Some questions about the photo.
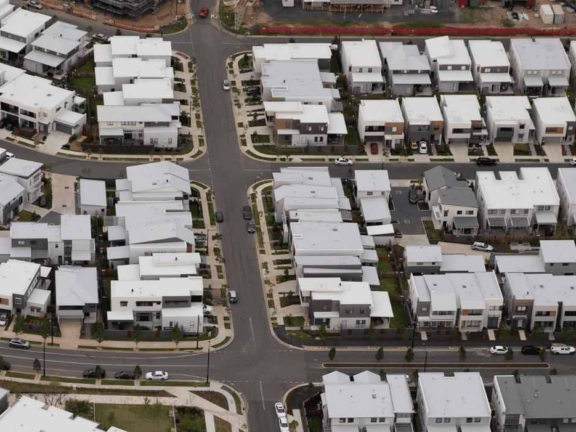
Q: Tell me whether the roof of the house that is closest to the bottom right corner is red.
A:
No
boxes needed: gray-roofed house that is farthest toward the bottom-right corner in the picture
[489,374,576,432]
